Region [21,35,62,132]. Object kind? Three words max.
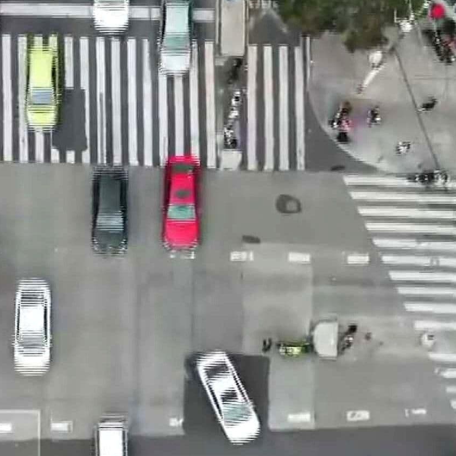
car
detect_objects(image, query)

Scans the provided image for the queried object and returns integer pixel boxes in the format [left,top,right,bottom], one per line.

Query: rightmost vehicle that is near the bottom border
[196,349,259,445]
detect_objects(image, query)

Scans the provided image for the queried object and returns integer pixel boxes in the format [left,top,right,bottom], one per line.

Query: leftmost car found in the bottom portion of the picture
[10,279,54,376]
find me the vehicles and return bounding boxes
[161,155,204,253]
[93,0,130,35]
[227,54,245,91]
[157,0,196,77]
[21,35,62,132]
[90,166,130,255]
[196,349,259,445]
[430,27,453,61]
[10,279,54,376]
[95,414,128,456]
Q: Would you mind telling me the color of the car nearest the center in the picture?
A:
red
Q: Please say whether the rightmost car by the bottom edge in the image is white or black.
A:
white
